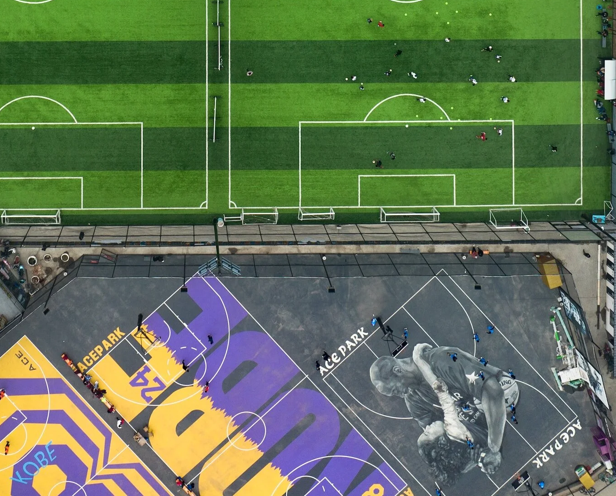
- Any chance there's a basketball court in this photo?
Yes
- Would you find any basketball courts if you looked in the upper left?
No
